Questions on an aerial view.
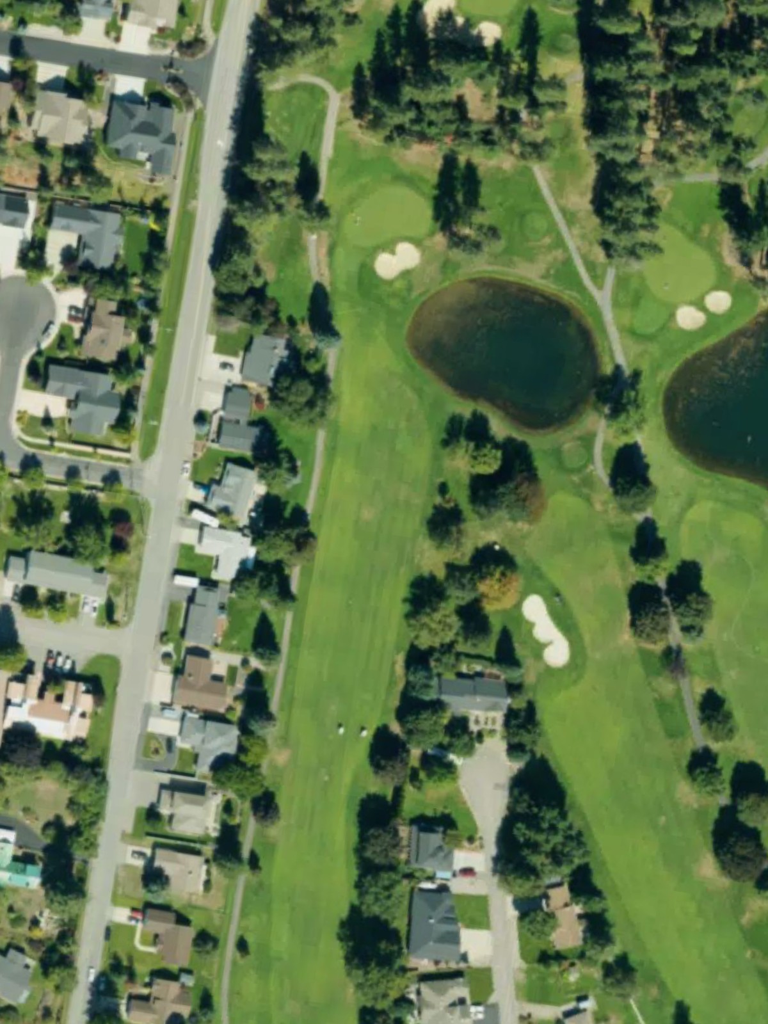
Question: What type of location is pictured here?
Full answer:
It's a golf course.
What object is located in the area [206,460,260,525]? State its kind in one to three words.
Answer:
house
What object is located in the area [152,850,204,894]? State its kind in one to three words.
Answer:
house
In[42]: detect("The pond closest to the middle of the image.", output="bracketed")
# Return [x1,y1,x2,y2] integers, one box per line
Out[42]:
[410,278,600,429]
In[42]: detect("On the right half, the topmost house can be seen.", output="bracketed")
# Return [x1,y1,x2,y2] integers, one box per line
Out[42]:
[440,676,510,716]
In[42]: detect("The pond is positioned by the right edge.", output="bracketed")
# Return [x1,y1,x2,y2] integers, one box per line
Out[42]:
[664,314,768,483]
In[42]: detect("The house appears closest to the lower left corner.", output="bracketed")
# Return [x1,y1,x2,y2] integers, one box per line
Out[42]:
[0,945,36,1008]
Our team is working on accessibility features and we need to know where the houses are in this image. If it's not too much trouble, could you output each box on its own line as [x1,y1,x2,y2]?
[0,674,94,744]
[410,823,453,872]
[126,978,195,1024]
[0,945,36,1008]
[243,333,284,384]
[124,0,178,27]
[5,552,108,594]
[143,907,196,969]
[44,364,120,438]
[0,82,15,135]
[79,0,114,20]
[152,850,204,894]
[545,883,585,951]
[418,978,474,1024]
[81,296,126,364]
[410,888,464,962]
[33,90,91,146]
[206,460,260,525]
[0,829,43,891]
[185,584,219,646]
[179,715,240,773]
[440,676,510,716]
[50,200,125,270]
[172,653,228,713]
[197,524,249,585]
[106,100,177,176]
[158,788,214,836]
[218,385,259,451]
